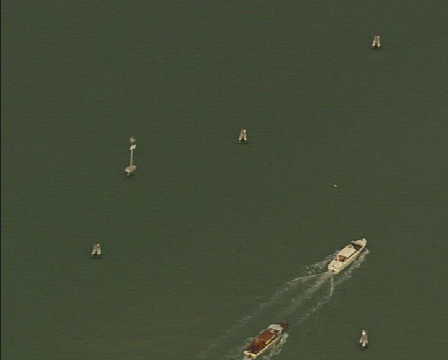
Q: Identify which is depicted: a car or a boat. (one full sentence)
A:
I can see a boat in this picture.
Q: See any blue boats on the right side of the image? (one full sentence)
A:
No, there's no blue boat to be seen on the right side of the image.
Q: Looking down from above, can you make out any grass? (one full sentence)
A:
No, grass can't be seen anywhere here.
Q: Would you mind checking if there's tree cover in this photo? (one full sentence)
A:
No, no tree cover is visible.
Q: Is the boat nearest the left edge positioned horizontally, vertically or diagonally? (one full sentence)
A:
In this picture, the boat nearest the left edge is oriented diagonally.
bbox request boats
[243,322,286,359]
[325,237,367,274]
